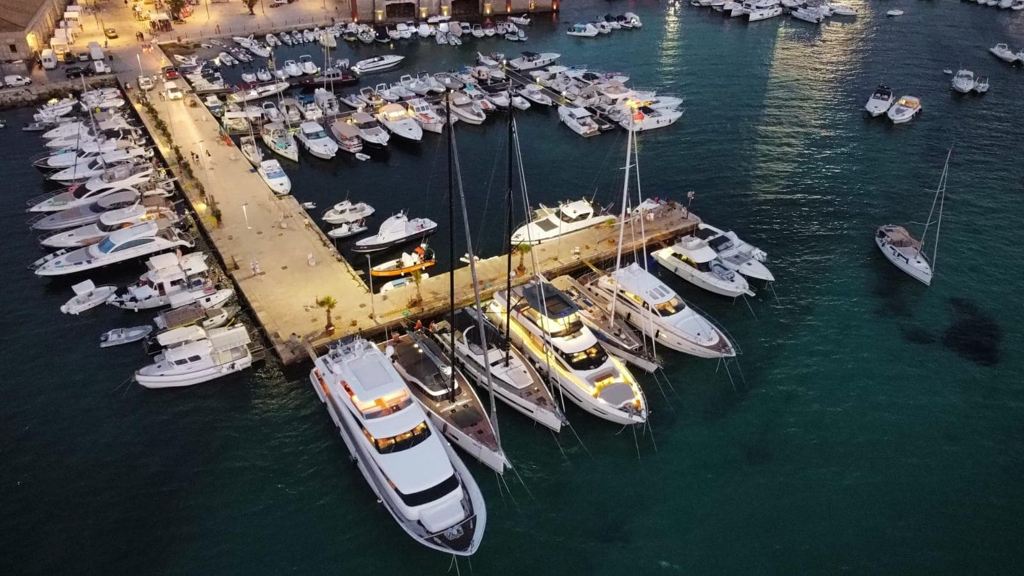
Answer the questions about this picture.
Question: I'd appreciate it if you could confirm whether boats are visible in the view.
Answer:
Yes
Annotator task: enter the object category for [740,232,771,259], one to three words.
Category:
boat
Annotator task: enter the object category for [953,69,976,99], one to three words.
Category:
boat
